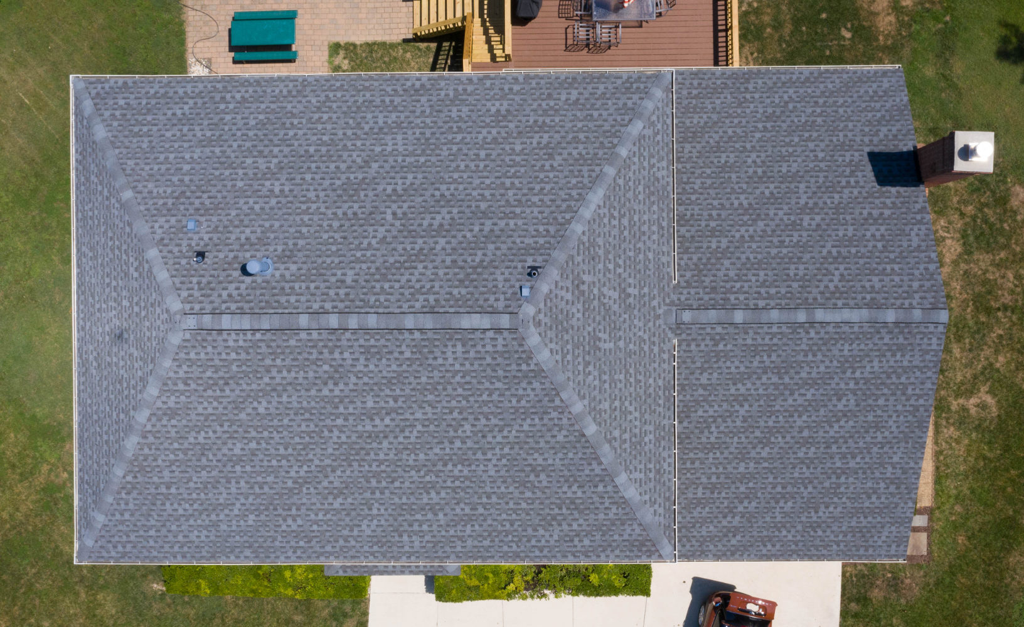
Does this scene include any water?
No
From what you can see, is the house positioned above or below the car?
above it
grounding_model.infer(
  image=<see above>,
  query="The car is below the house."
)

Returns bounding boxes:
[694,585,778,627]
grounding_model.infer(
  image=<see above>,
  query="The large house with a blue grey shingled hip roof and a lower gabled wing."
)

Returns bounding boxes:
[71,67,993,577]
